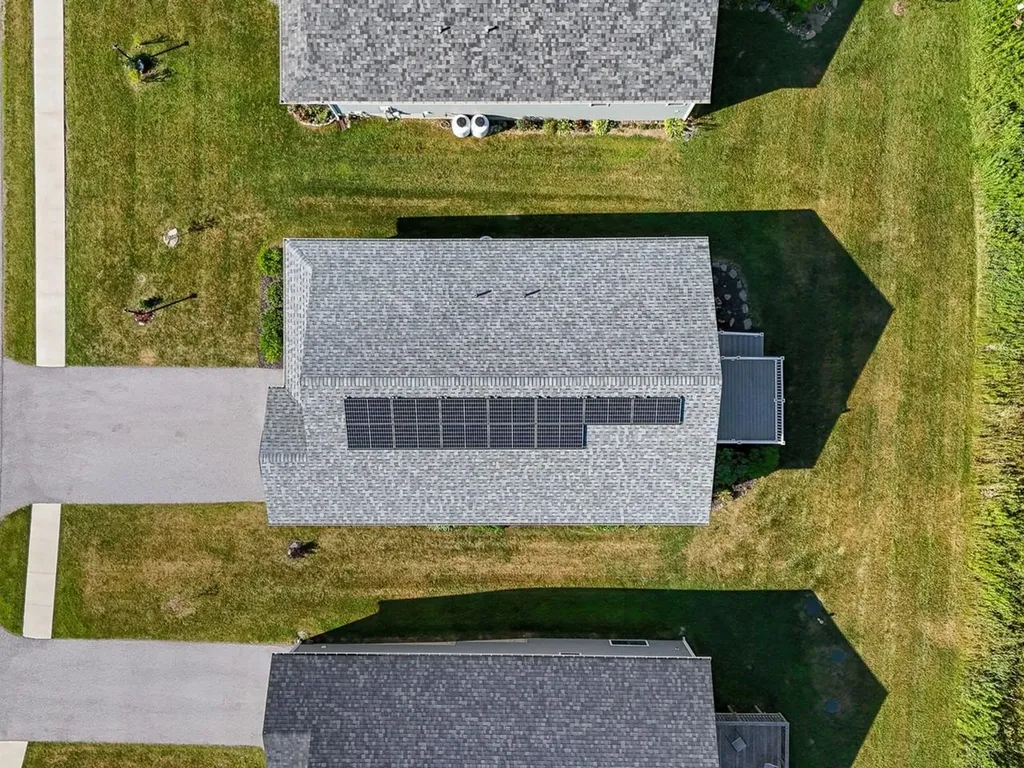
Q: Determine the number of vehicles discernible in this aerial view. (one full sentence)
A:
No vehicles are visible.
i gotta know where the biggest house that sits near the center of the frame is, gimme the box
[260,234,722,526]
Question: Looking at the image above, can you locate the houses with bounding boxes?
[260,234,722,526]
[279,0,719,128]
[262,633,718,768]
